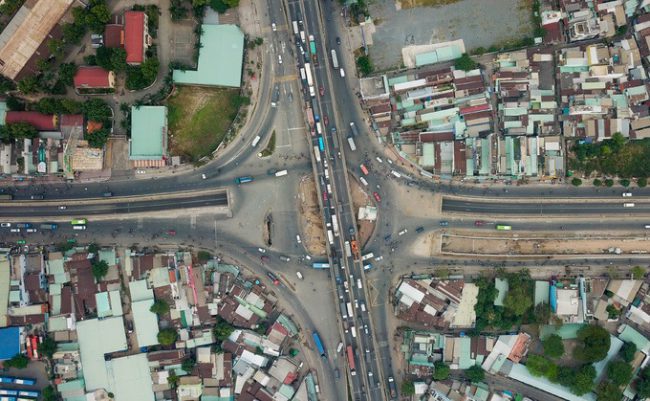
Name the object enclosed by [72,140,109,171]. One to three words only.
house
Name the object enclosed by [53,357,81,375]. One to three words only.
house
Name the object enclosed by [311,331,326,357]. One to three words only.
vehicle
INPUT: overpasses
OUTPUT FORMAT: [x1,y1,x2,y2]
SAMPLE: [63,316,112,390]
[286,0,387,401]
